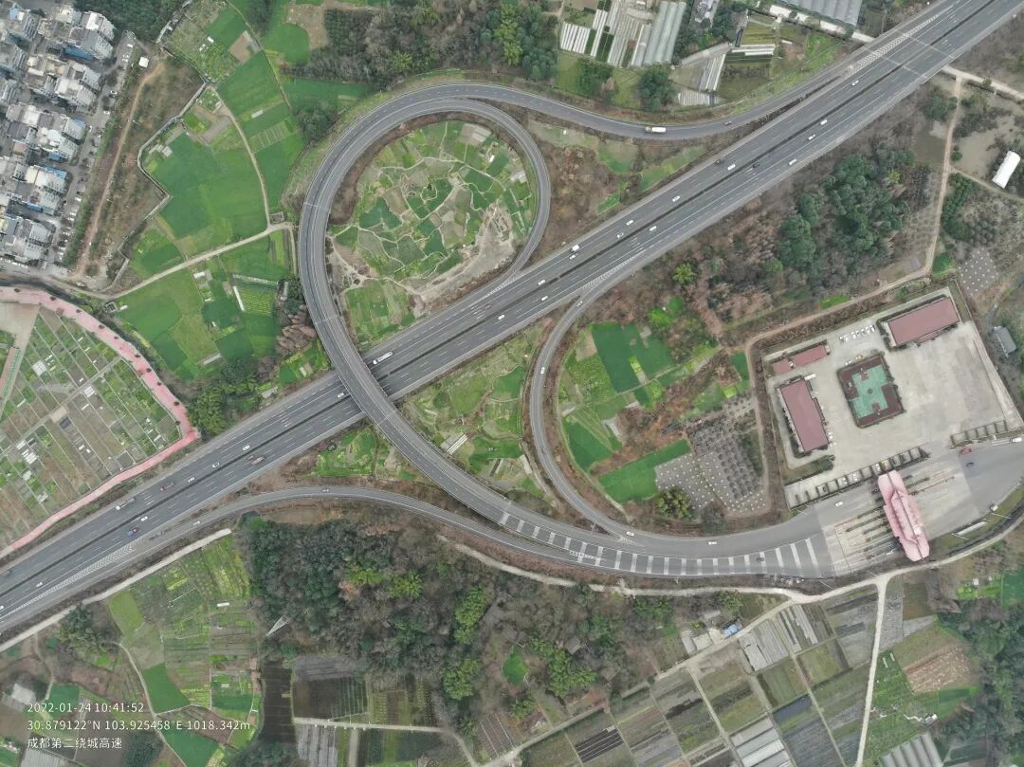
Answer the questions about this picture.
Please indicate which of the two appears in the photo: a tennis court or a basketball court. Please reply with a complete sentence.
It is a basketball court that can be seen here.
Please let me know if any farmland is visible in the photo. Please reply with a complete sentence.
Yes, the picture does contain farmland.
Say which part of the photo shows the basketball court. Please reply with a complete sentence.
The basketball court is in the right part of the image.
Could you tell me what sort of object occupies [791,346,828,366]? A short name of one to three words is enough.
building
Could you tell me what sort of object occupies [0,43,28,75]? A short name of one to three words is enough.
house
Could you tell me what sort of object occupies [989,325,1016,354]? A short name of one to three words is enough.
shed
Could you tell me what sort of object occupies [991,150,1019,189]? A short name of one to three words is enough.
greenhouse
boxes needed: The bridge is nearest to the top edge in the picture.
[854,15,956,113]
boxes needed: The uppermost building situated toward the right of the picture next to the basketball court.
[880,298,959,347]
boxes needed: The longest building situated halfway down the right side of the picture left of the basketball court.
[777,378,829,453]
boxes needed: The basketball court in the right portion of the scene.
[839,356,905,427]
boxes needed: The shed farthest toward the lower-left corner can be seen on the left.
[9,683,37,703]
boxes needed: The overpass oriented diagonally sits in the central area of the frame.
[299,205,522,518]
